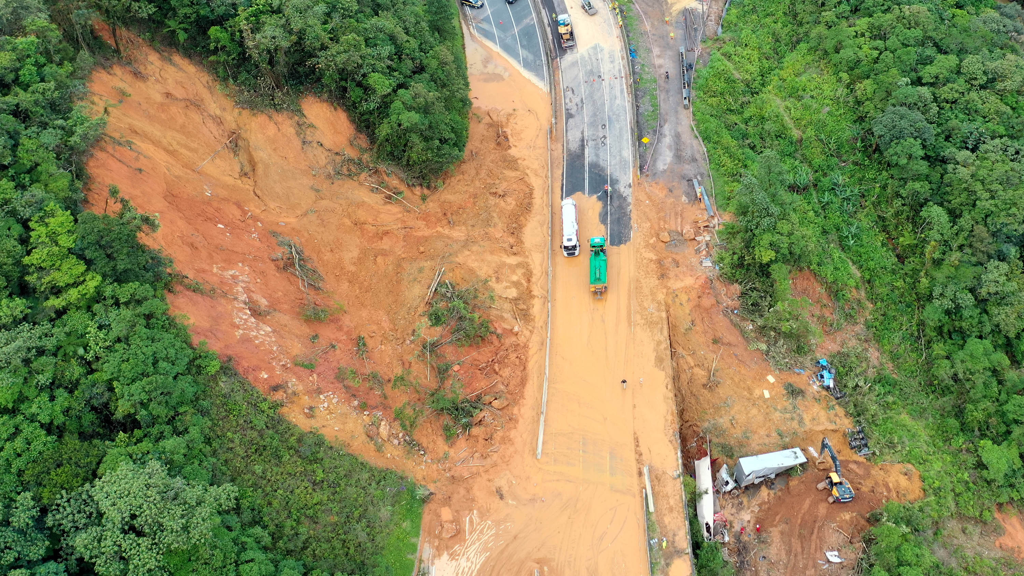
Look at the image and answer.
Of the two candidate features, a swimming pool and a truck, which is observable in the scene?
truck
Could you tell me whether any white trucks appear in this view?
Yes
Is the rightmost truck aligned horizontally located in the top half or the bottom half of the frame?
bottom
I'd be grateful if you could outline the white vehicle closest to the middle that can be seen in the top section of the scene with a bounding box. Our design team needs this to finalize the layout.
[561,199,582,255]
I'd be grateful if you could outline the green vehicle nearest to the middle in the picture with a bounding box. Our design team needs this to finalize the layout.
[587,236,612,304]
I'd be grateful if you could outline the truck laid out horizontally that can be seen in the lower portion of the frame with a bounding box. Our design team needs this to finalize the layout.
[715,447,806,489]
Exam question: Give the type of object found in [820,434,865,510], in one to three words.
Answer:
work vehicle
